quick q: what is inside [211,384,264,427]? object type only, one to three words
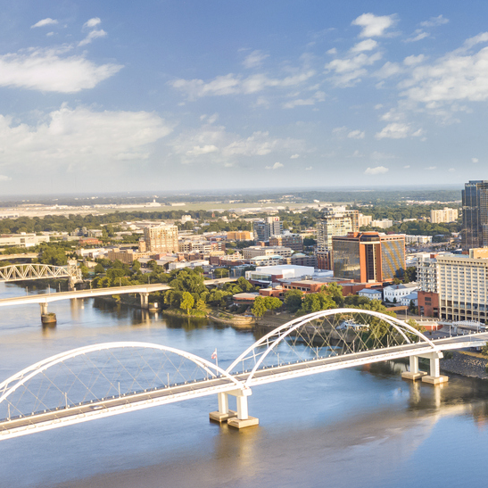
pier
